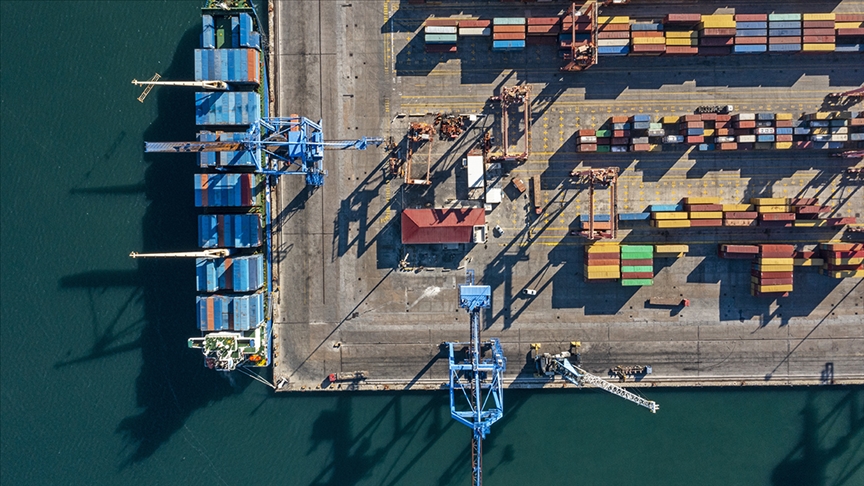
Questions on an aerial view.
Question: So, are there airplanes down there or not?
No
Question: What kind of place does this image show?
port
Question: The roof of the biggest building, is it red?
Yes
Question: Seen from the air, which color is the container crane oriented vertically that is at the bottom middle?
blue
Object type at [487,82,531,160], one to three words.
container crane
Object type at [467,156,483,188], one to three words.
shed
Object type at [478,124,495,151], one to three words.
work vehicle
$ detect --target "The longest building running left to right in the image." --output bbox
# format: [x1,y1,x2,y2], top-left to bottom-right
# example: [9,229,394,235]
[402,208,489,243]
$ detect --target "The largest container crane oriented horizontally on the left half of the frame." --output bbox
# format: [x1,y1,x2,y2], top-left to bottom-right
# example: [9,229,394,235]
[146,113,386,185]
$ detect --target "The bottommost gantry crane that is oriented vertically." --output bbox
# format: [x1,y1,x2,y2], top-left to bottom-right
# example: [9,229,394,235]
[446,260,508,486]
